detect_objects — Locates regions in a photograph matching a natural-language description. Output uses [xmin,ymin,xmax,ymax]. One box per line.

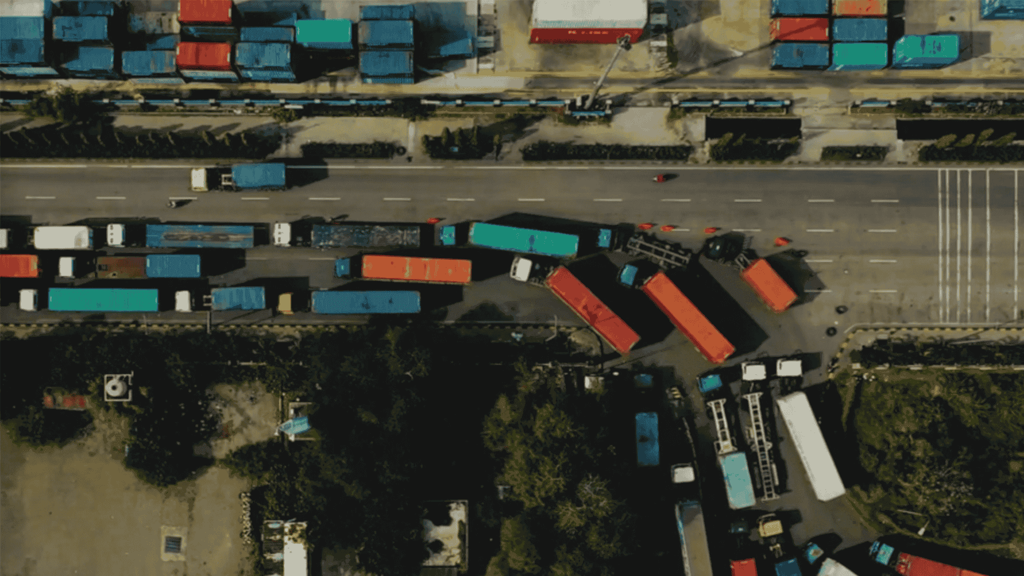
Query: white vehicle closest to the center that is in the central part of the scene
[506,255,622,356]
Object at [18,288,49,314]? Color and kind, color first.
white truck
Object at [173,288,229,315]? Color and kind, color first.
white truck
